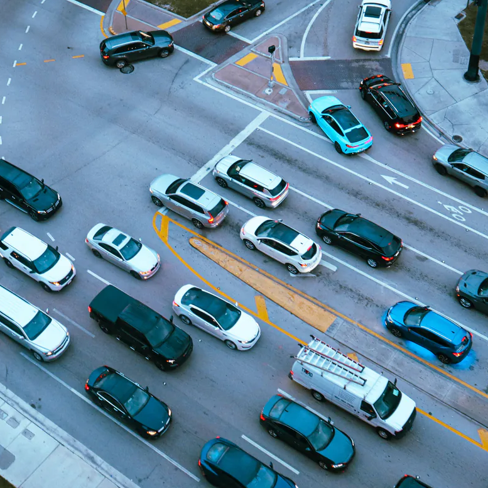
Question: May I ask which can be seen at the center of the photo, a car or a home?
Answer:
car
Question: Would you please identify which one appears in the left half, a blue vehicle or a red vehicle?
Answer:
blue vehicle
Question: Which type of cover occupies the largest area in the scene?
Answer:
paved ground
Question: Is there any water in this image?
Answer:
No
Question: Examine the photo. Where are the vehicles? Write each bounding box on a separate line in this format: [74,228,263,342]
[147,176,230,232]
[0,281,72,364]
[81,361,172,438]
[99,26,177,68]
[199,0,268,34]
[170,285,262,351]
[0,225,78,294]
[196,434,296,488]
[0,159,65,223]
[85,223,164,281]
[312,103,371,158]
[87,285,196,372]
[361,73,424,137]
[212,156,292,210]
[385,301,479,367]
[316,211,409,272]
[434,145,488,199]
[295,336,420,442]
[258,394,356,473]
[455,269,488,316]
[239,216,327,277]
